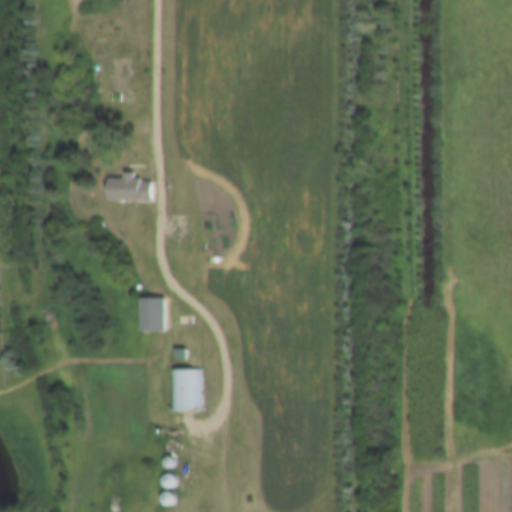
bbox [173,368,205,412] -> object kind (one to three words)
barn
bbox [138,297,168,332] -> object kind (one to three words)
shed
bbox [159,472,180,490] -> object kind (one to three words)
silo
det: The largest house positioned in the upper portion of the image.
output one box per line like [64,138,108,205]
[104,172,156,204]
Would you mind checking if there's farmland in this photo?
Yes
